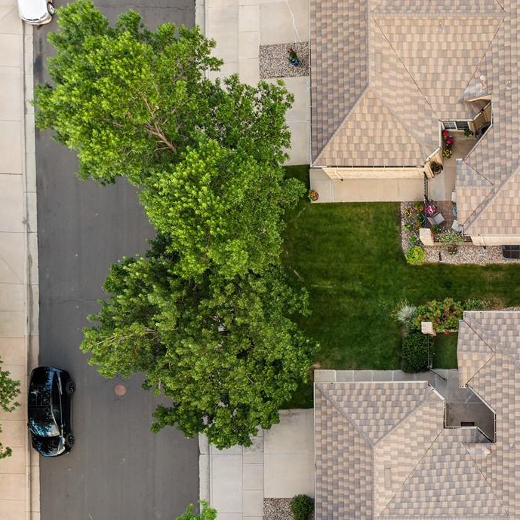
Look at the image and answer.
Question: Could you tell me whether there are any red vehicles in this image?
No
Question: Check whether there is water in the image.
No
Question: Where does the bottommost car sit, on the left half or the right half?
left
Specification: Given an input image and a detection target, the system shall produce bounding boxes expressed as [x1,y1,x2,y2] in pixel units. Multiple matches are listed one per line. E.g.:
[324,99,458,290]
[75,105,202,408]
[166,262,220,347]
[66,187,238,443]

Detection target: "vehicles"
[9,0,54,18]
[24,368,77,458]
